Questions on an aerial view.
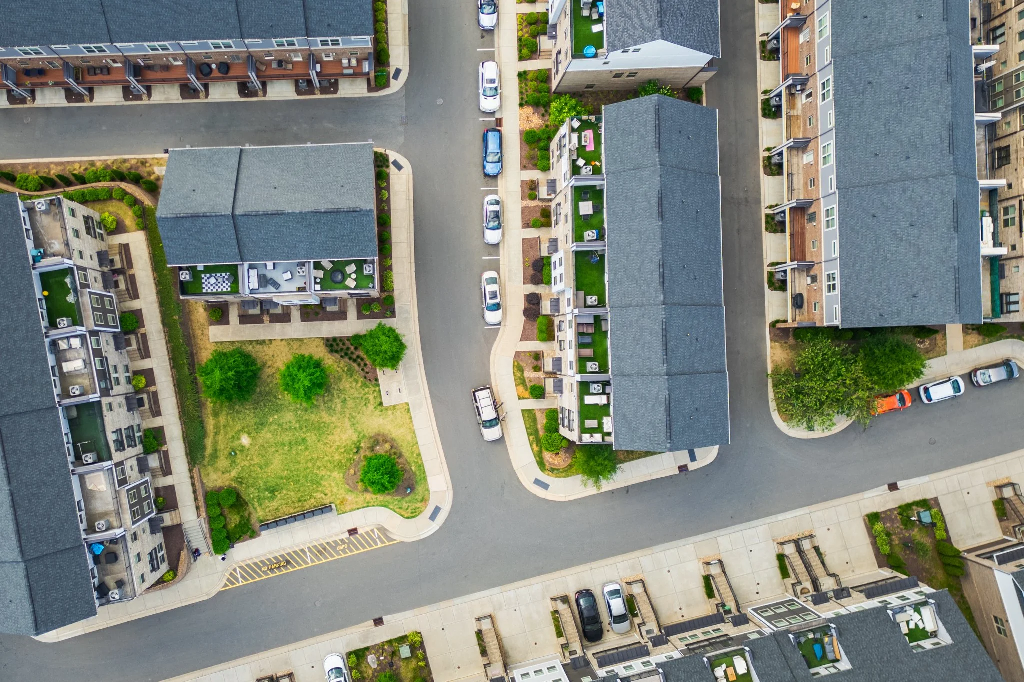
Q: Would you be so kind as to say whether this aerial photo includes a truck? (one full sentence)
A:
No, I find no truck anywhere in the image.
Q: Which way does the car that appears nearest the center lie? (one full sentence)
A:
What the image shows is the car that appears nearest the center lying from top to bottom.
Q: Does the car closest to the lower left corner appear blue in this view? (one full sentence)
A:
No, the car closest to the lower left corner is white.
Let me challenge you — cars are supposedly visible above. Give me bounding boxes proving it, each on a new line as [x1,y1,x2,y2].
[918,376,965,403]
[482,127,505,176]
[473,387,507,440]
[482,194,505,244]
[481,271,505,324]
[324,652,349,682]
[969,360,1019,386]
[478,59,503,112]
[870,389,914,414]
[604,581,632,634]
[576,589,605,641]
[476,0,500,30]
